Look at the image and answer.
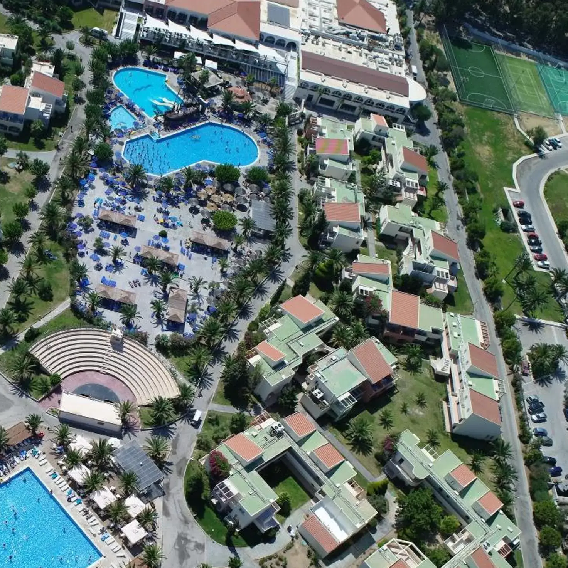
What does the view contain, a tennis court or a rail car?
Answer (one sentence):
Visible in the photo is a tennis court.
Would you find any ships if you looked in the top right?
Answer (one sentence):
No, no ship is visible in the top right.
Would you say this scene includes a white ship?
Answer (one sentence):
No, there isn't any white ship down there.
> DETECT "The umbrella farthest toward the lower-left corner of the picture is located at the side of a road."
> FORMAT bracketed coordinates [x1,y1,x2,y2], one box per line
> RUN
[106,435,123,449]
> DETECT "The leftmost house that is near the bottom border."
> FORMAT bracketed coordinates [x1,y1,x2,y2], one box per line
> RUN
[204,411,370,565]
